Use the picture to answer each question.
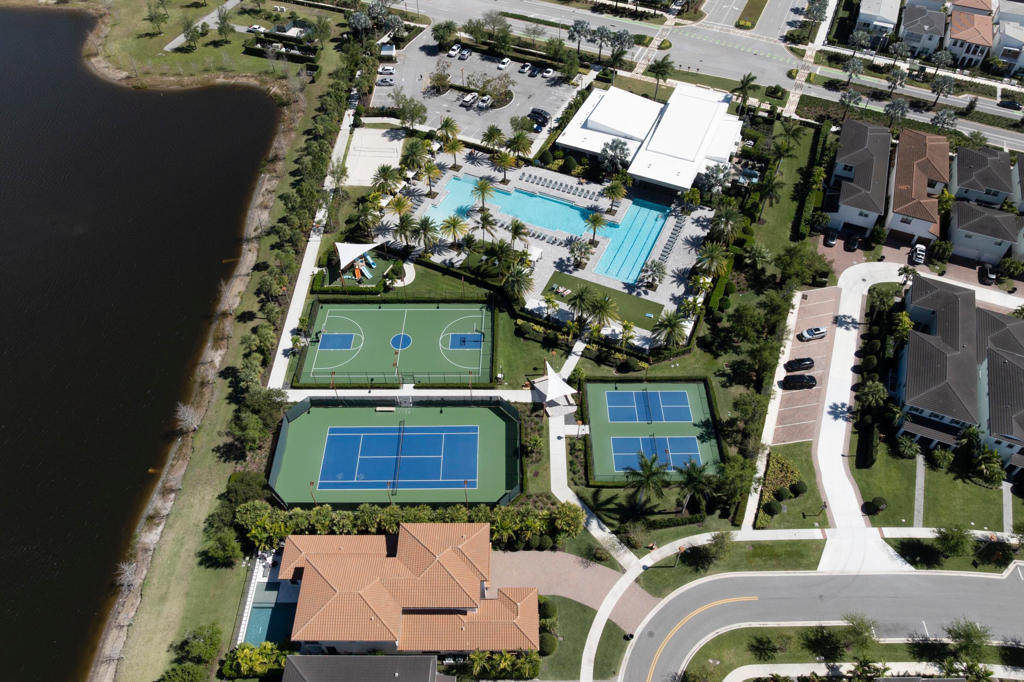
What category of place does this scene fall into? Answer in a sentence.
This image shows a residential area.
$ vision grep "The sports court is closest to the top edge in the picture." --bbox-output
[343,128,406,185]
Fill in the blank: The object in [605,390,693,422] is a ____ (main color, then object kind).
blue sports court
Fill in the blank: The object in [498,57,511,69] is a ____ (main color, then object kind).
white vehicle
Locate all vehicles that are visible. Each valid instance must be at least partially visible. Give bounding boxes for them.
[800,325,829,342]
[529,64,544,77]
[448,43,462,56]
[541,67,555,78]
[459,49,473,59]
[377,65,396,75]
[524,123,545,134]
[246,24,266,33]
[479,95,492,108]
[785,358,816,373]
[999,100,1022,110]
[375,78,395,86]
[519,61,533,73]
[498,57,511,69]
[462,92,480,105]
[783,374,818,390]
[825,228,840,247]
[530,106,551,119]
[981,263,998,285]
[530,113,549,127]
[912,243,928,264]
